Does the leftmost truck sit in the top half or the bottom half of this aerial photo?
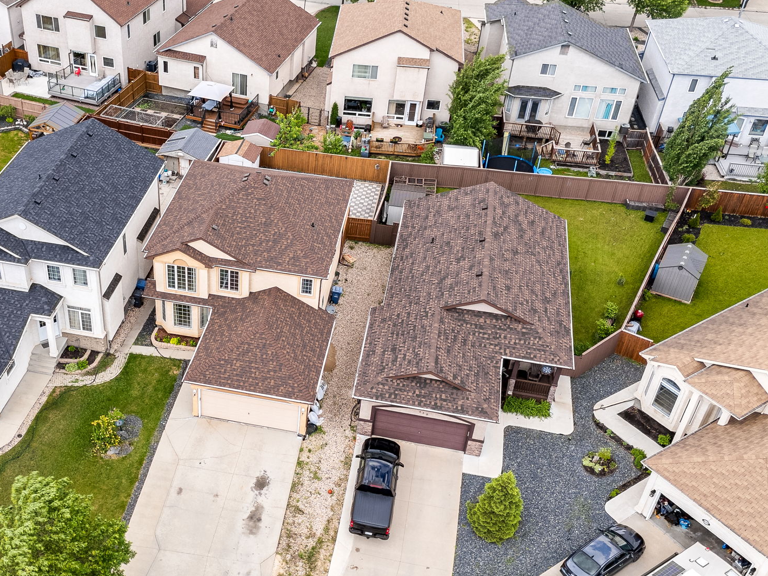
bottom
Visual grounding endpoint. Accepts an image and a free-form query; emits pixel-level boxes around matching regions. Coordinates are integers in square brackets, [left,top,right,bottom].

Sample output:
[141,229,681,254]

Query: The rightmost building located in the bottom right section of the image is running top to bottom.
[630,286,768,576]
